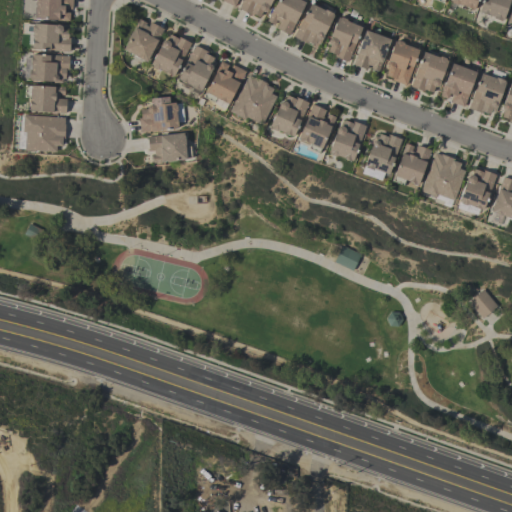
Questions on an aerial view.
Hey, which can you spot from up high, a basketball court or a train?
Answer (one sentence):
There is a basketball court in the scene.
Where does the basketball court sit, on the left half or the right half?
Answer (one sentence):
The basketball court is on the left side of the image.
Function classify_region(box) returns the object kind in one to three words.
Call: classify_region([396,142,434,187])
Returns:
house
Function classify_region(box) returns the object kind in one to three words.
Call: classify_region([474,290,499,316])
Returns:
building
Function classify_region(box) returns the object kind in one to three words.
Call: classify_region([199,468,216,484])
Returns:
camper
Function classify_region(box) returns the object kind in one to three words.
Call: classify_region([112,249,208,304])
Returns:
basketball court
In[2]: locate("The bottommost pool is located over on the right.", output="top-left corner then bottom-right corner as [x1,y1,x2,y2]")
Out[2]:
[296,144,319,160]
